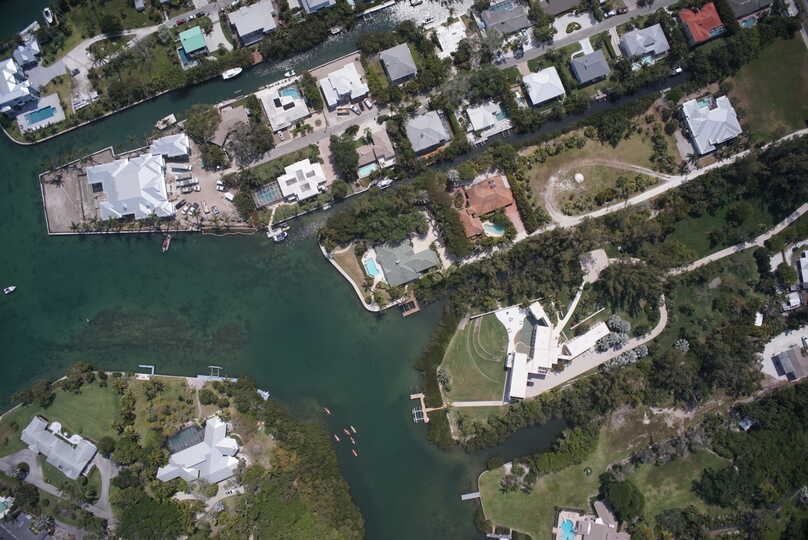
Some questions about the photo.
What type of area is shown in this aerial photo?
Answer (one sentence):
This looks like a residential area.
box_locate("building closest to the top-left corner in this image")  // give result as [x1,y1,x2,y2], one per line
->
[12,39,45,69]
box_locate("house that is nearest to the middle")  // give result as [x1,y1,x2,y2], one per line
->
[376,240,442,287]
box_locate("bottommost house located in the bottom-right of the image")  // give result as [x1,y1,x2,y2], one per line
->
[576,493,633,540]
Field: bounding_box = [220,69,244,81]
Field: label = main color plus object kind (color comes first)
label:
white boat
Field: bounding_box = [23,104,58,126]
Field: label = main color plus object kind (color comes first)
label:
blue swimming pool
